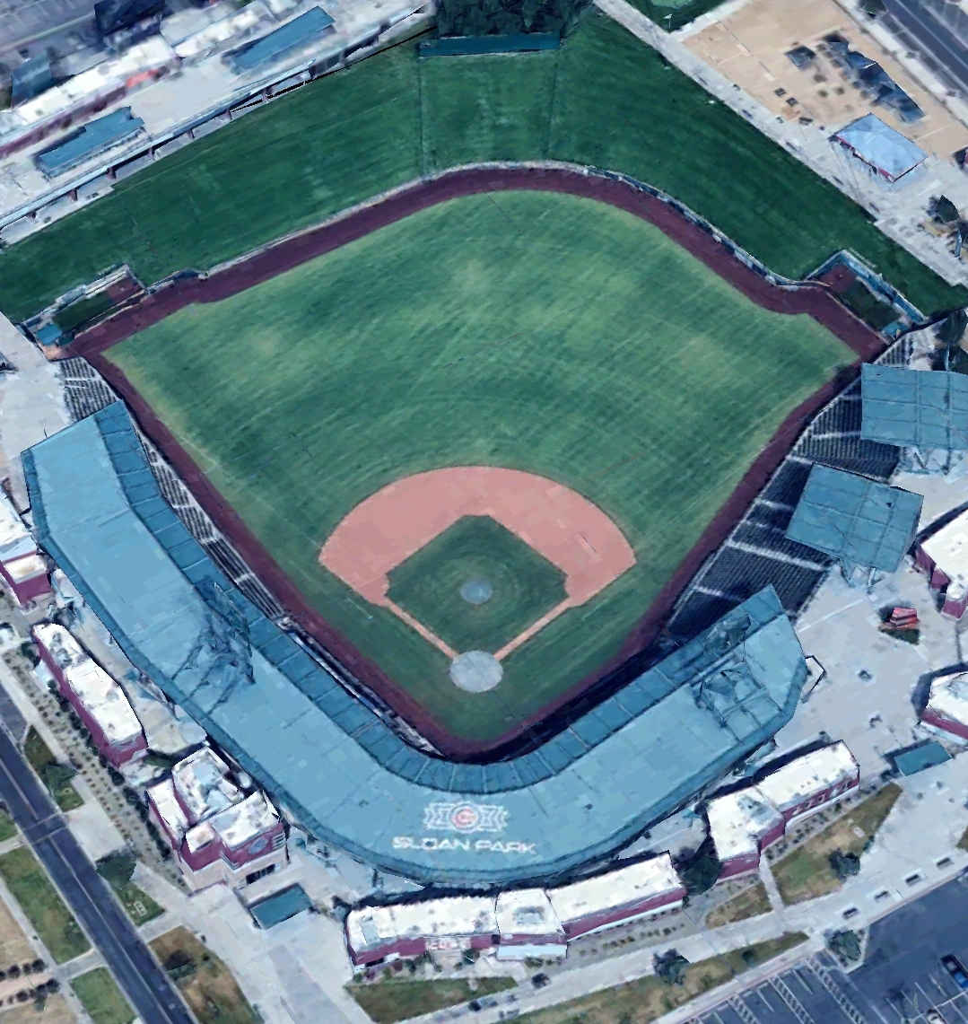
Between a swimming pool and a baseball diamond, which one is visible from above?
baseball diamond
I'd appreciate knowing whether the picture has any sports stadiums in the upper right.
No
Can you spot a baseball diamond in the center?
Yes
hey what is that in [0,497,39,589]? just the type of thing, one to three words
building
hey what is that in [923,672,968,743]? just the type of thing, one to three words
building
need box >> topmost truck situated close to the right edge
[940,954,968,987]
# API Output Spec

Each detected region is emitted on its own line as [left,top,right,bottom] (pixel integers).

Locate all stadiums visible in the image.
[21,400,807,899]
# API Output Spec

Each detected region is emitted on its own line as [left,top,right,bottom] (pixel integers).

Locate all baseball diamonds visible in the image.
[26,167,884,759]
